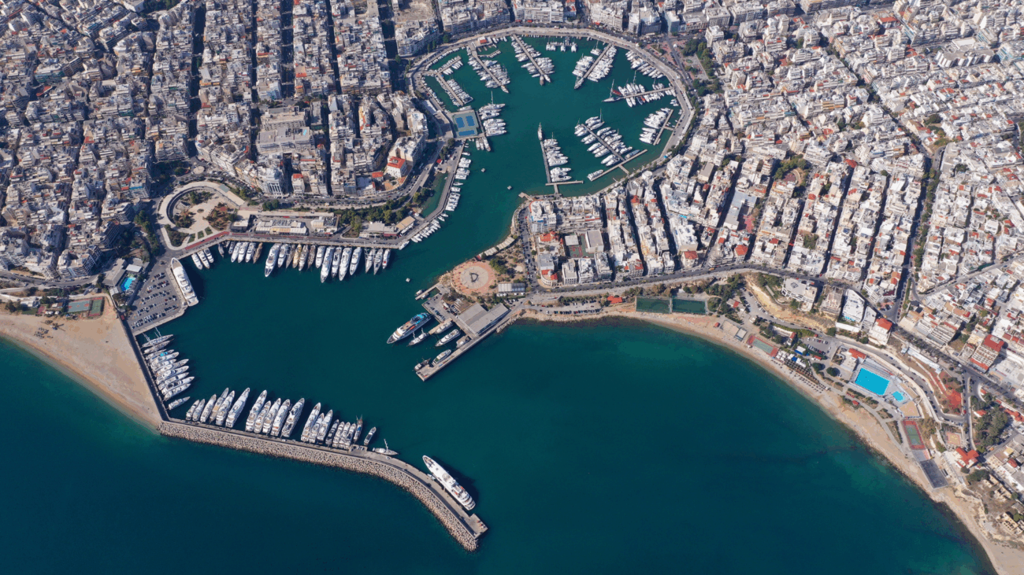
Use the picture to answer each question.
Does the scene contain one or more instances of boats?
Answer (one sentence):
Yes, there is a boat in the image.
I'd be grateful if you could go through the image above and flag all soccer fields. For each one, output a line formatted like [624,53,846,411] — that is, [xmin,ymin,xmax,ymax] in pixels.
[672,297,706,314]
[636,296,671,313]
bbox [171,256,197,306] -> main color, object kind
white ship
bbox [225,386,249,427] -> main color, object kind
white boat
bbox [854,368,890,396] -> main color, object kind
blue swimming pool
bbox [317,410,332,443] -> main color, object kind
white boat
